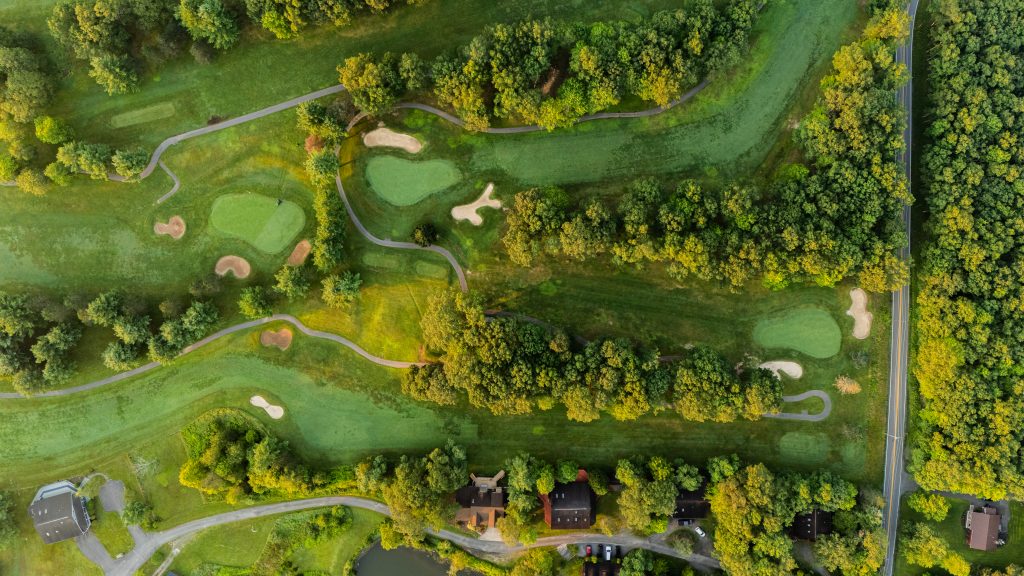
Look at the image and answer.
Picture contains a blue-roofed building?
No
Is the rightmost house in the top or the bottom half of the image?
bottom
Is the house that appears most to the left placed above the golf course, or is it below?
below it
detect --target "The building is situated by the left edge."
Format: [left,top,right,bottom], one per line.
[25,479,92,544]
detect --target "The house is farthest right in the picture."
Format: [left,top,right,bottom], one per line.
[963,504,1000,552]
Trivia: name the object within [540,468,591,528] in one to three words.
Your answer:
house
